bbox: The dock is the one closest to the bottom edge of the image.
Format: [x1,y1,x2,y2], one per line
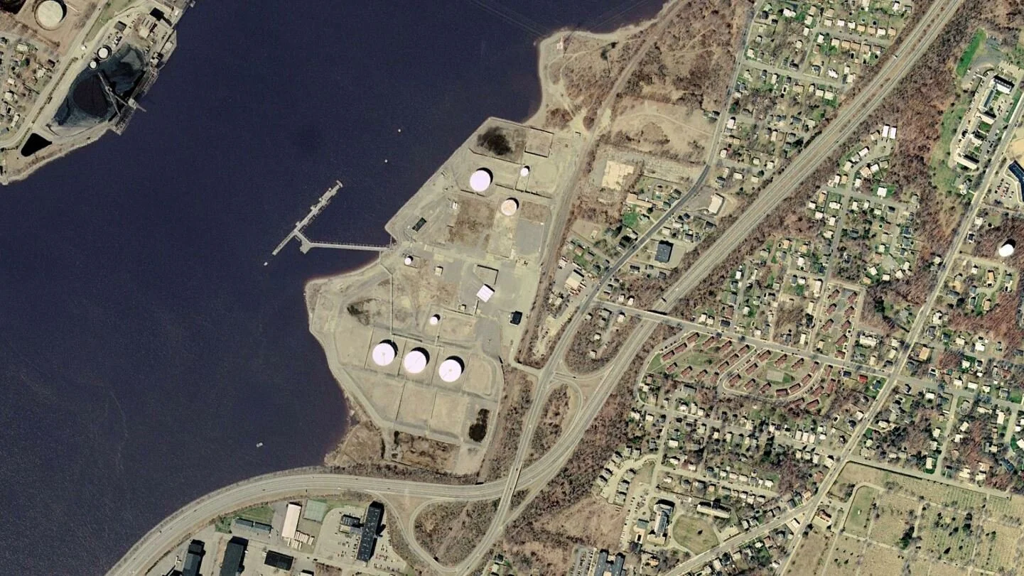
[271,181,391,263]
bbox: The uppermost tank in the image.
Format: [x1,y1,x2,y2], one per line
[34,0,66,29]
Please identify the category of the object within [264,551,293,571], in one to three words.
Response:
building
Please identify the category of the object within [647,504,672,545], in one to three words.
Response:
building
